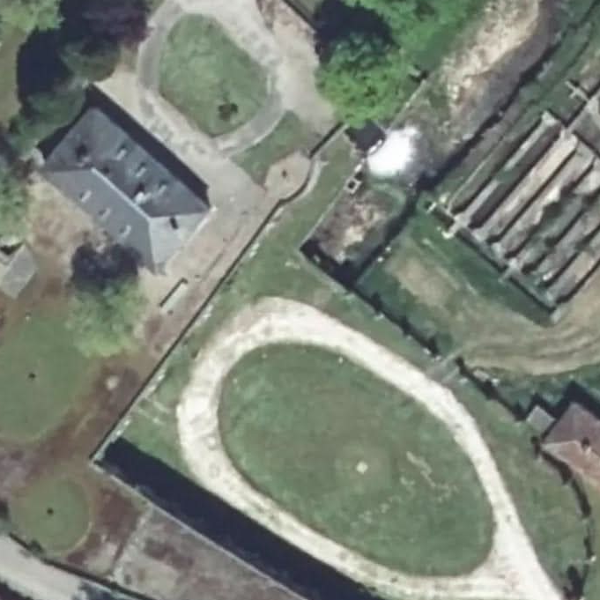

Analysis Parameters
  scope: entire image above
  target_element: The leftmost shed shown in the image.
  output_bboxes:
[0,240,35,298]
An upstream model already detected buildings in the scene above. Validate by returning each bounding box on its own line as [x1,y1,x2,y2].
[527,408,558,435]
[0,240,35,298]
[541,402,600,488]
[41,105,213,269]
